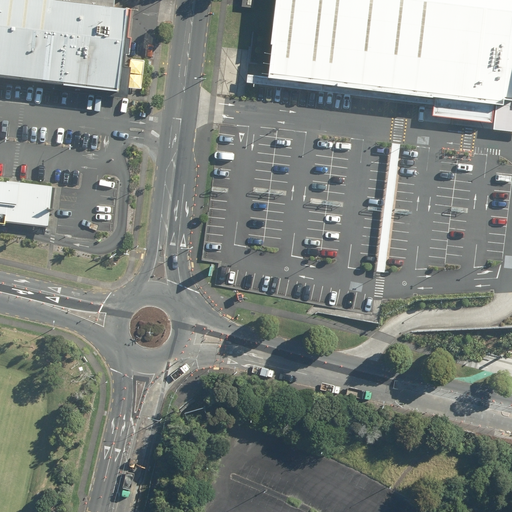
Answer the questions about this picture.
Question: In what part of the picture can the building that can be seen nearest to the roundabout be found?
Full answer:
Look in the left portion of the view to spot the building that can be seen nearest to the roundabout.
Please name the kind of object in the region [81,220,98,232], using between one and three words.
vehicle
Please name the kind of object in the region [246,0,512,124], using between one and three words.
building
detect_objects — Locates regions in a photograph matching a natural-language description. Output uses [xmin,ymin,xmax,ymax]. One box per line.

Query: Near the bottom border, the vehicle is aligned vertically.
[121,472,134,498]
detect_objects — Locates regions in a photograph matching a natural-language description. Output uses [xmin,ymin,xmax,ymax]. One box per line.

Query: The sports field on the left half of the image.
[0,370,46,512]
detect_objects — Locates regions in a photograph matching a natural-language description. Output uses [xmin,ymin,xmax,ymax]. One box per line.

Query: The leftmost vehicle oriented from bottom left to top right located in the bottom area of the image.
[164,362,191,384]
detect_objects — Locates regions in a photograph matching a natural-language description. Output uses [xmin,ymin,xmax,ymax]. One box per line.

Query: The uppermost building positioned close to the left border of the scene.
[0,0,138,96]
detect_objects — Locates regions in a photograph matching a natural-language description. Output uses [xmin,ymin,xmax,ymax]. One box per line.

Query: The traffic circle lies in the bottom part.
[130,306,172,348]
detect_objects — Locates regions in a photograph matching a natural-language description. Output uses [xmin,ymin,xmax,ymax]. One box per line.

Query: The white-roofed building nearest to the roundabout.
[0,180,52,226]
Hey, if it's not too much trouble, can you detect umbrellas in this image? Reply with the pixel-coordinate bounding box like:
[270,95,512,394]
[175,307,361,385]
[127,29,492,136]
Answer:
[130,59,145,74]
[128,74,143,89]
